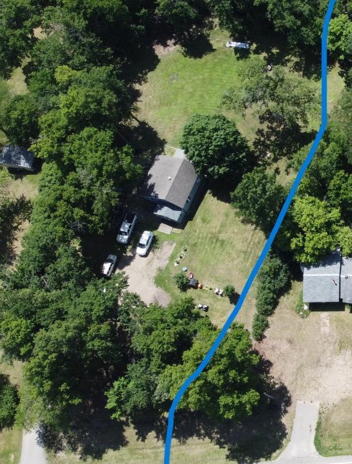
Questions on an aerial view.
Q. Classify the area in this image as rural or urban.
rural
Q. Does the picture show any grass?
Yes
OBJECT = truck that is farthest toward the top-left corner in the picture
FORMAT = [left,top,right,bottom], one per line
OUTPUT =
[118,213,139,244]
